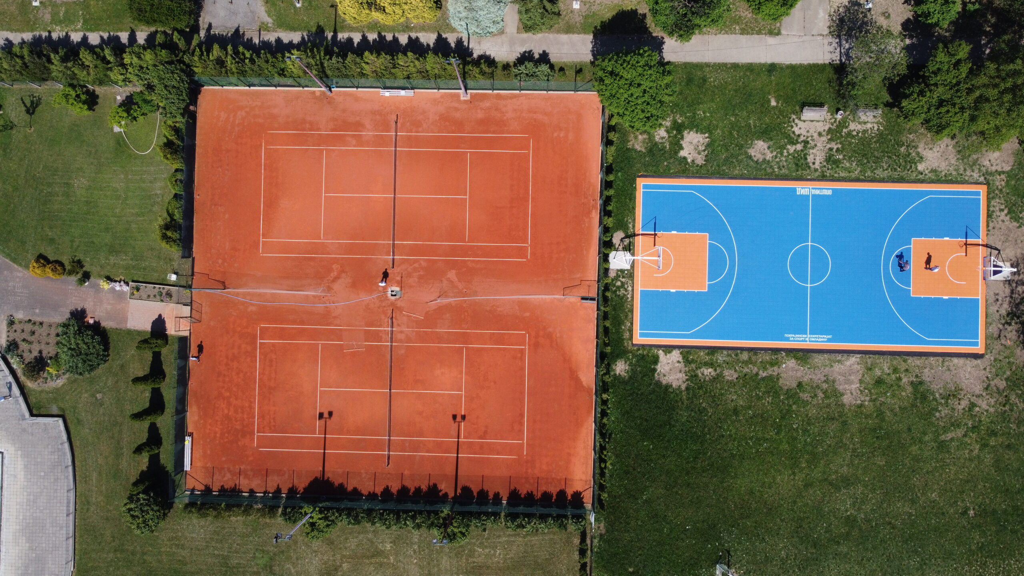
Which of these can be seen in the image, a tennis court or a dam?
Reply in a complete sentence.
I can see a tennis court in this picture.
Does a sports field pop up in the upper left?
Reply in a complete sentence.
No, looking in the upper left, there is no sports field.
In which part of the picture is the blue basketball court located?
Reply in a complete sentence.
The blue basketball court sits in the right section of the image.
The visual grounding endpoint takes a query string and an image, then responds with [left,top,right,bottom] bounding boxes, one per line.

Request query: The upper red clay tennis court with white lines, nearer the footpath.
[192,88,600,296]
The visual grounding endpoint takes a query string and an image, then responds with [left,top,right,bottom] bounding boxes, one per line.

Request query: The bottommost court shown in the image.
[186,287,596,505]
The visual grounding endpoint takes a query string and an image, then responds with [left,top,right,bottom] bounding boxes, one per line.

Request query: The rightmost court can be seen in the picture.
[632,175,987,358]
